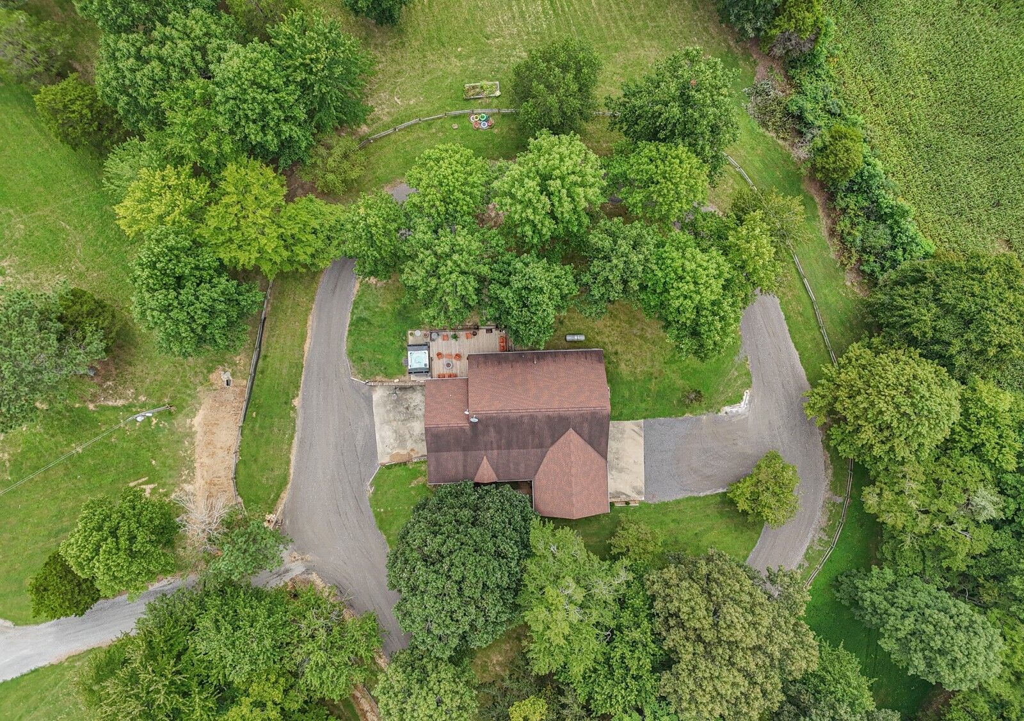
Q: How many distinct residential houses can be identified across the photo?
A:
1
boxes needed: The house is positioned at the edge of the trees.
[423,348,611,519]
